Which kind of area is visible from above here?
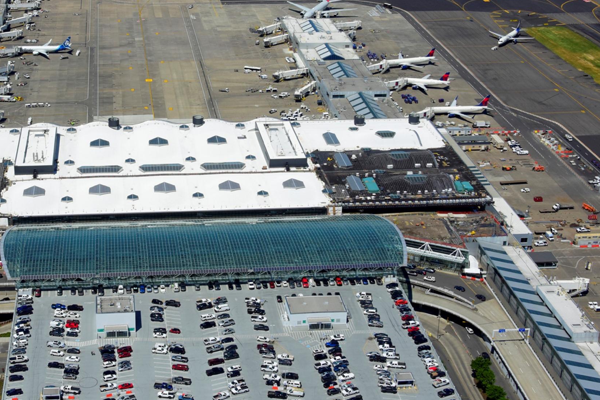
airport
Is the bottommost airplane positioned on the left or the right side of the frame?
right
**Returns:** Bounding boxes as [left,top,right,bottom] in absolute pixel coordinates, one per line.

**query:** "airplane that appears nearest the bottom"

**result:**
[420,92,497,118]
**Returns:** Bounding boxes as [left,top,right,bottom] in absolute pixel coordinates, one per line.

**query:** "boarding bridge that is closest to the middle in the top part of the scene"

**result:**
[292,81,314,101]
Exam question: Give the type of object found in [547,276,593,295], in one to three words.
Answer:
jet bridge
